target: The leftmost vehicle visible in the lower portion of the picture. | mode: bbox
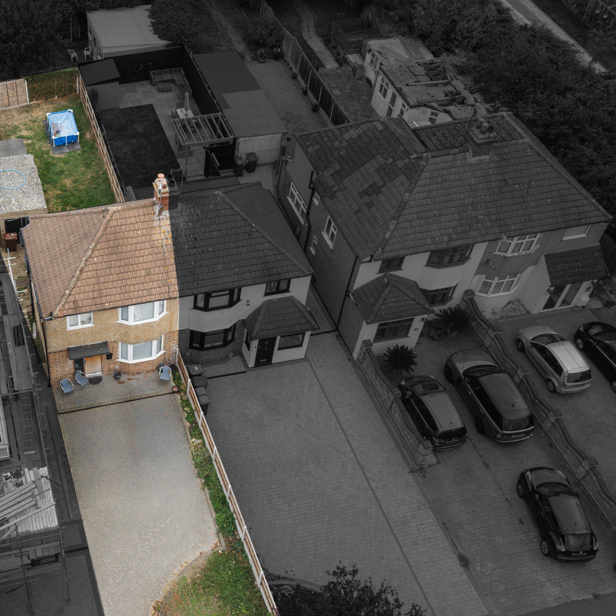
[400,363,472,446]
